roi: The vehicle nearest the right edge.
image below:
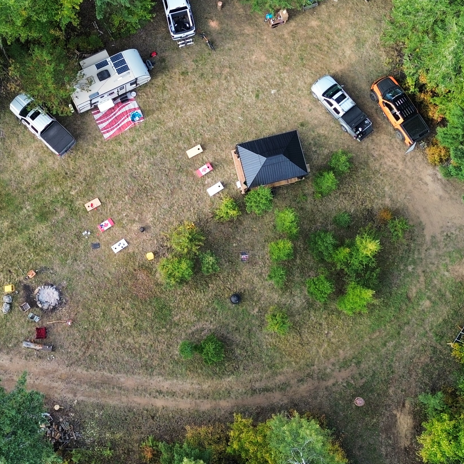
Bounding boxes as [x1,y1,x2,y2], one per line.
[370,78,431,147]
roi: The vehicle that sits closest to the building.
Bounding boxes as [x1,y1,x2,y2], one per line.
[310,78,373,143]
